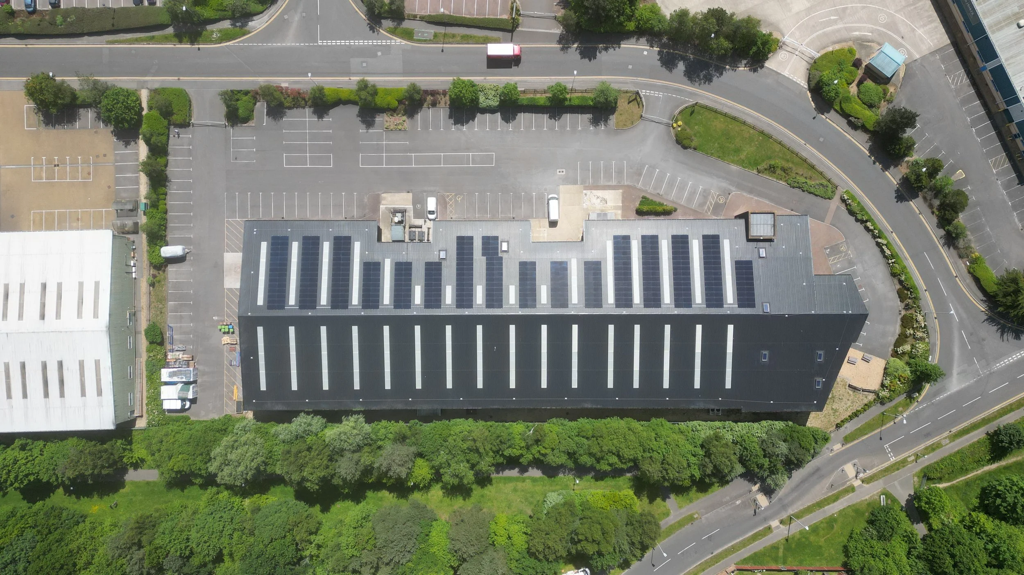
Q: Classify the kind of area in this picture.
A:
industrial area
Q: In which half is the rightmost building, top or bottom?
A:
top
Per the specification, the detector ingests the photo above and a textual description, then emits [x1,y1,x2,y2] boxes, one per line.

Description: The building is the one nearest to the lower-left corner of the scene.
[0,229,135,432]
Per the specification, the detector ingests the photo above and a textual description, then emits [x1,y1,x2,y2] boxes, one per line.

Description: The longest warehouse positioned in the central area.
[238,211,868,419]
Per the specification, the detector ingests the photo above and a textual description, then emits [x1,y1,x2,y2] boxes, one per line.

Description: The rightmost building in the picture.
[944,0,1024,162]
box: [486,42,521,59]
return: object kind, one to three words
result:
vehicle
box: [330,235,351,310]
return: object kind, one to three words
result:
solar array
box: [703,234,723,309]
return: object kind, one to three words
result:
solar array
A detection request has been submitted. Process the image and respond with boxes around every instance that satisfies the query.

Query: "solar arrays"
[456,236,473,309]
[671,234,692,309]
[330,235,351,310]
[584,260,602,309]
[735,259,755,309]
[267,236,288,310]
[550,261,568,309]
[362,261,380,310]
[613,234,632,309]
[299,235,320,310]
[393,261,412,310]
[424,261,442,309]
[641,235,661,309]
[703,234,723,309]
[519,261,536,309]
